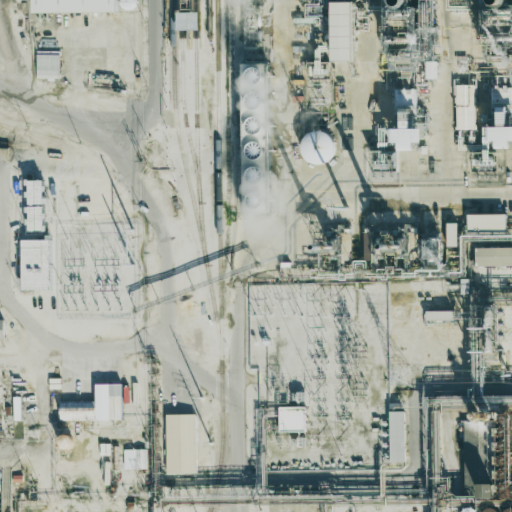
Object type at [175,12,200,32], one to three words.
shed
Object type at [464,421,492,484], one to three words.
building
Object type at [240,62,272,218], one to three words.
cooling tower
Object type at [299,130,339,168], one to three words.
storage tank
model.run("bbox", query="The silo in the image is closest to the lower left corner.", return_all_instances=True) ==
[56,430,78,450]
